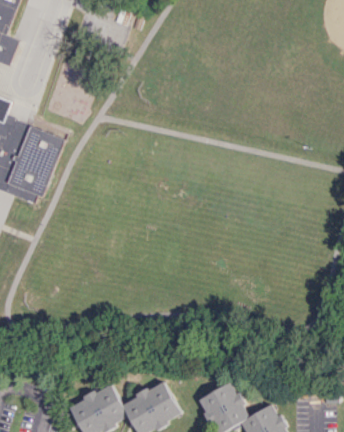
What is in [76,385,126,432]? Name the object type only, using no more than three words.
house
